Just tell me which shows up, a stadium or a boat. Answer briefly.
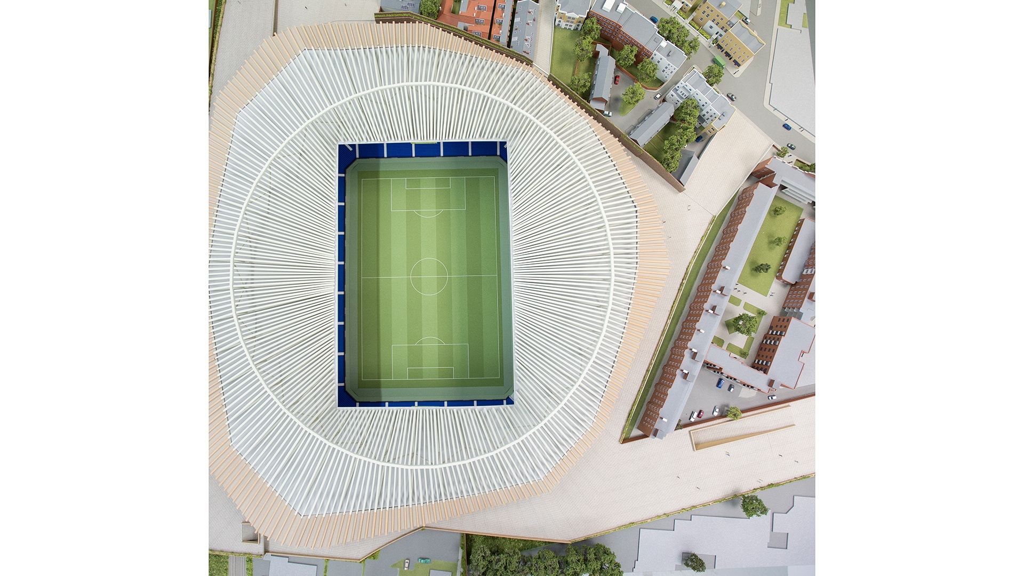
stadium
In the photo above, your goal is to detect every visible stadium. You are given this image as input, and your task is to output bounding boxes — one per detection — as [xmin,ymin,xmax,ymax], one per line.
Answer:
[208,22,670,549]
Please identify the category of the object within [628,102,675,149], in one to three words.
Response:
house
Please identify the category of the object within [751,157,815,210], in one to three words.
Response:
building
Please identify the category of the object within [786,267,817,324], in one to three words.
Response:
building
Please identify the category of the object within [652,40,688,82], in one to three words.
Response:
house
